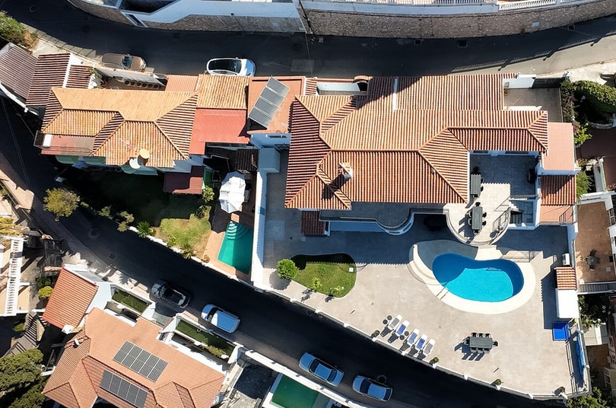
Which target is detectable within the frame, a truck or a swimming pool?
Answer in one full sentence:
Looking from above, you can make out a swimming pool.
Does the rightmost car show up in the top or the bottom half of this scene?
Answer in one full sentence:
The bottom half of the photo is where the rightmost car is.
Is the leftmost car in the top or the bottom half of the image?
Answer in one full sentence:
The leftmost car sits in the top half of the picture.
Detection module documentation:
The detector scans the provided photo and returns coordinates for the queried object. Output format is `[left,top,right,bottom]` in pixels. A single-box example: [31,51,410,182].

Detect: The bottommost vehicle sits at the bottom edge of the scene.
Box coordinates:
[350,373,394,403]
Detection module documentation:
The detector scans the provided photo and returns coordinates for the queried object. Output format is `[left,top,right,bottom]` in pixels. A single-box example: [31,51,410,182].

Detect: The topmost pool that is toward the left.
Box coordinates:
[218,221,254,274]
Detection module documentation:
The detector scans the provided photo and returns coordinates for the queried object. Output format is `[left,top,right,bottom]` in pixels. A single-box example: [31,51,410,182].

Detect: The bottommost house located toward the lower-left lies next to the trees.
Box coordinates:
[41,313,230,408]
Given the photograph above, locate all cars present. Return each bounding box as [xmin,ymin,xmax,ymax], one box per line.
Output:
[200,302,243,337]
[149,278,194,314]
[99,50,148,73]
[350,373,394,403]
[206,54,256,76]
[298,351,346,387]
